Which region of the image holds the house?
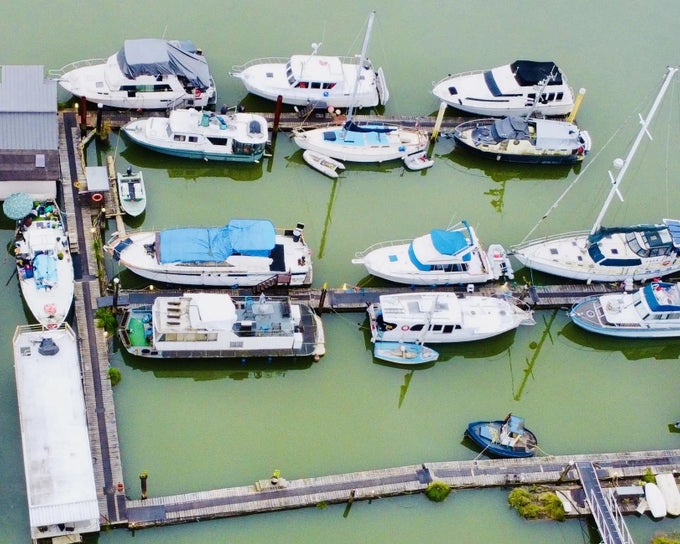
top left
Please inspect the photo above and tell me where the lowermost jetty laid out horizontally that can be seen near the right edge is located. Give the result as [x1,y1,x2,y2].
[426,453,680,489]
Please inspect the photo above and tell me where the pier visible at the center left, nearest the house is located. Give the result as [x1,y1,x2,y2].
[60,102,130,532]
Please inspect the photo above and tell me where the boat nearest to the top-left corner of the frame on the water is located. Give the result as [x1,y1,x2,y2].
[52,21,219,110]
